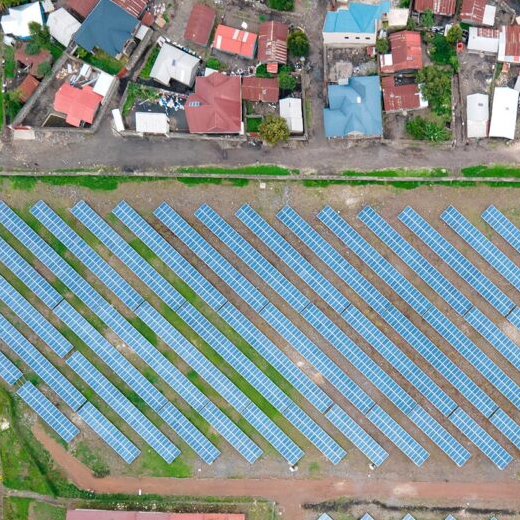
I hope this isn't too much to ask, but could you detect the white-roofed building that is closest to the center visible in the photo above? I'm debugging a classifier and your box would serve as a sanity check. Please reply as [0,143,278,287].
[280,100,303,134]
